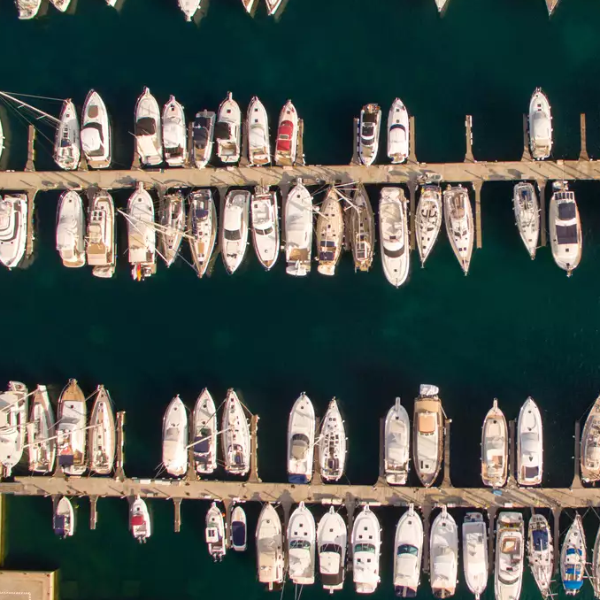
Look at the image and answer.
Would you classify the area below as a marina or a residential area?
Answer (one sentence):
It's a marina.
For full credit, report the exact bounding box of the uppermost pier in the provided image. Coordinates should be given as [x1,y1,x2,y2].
[0,113,600,258]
